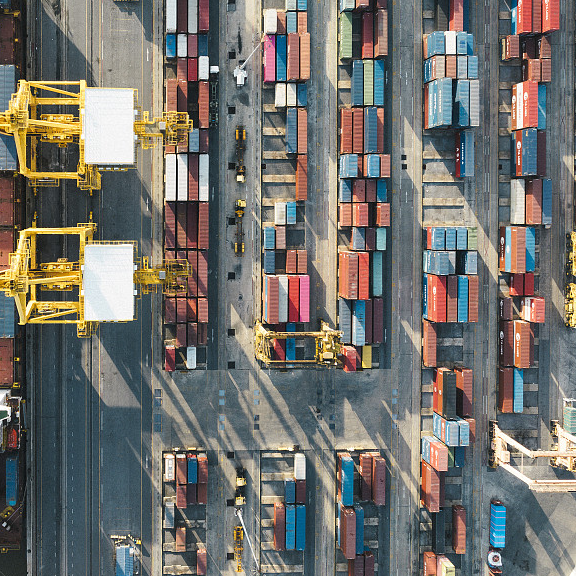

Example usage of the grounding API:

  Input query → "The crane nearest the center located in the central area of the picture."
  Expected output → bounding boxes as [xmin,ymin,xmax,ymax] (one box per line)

[253,316,351,366]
